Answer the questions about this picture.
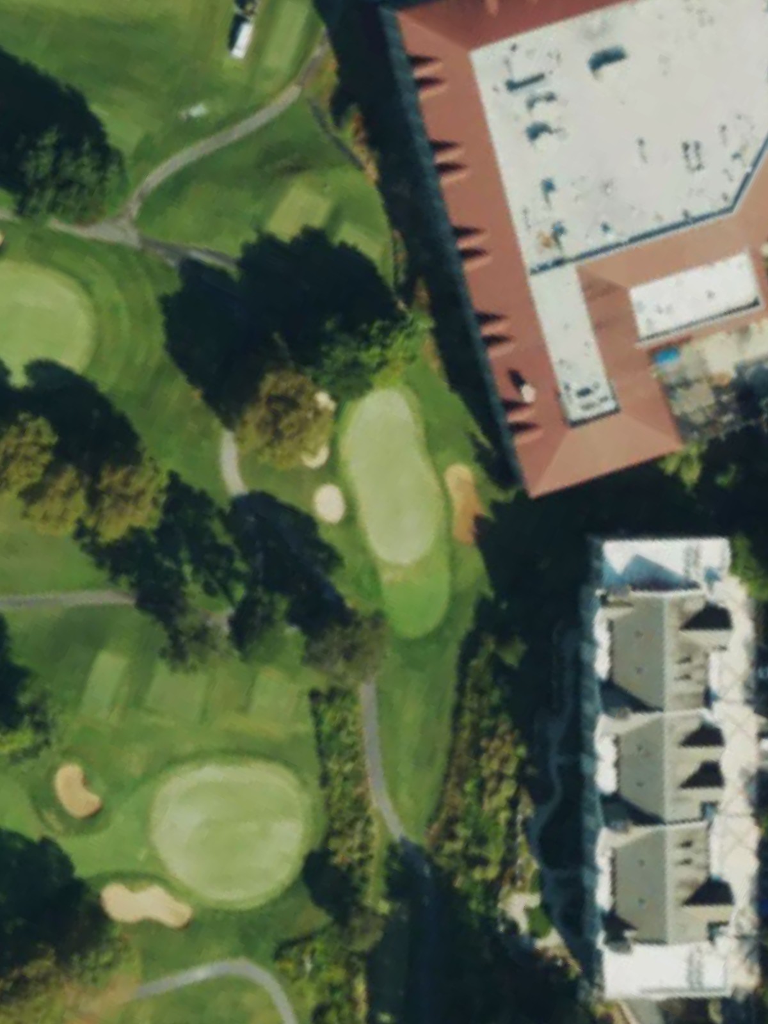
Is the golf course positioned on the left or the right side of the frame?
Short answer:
left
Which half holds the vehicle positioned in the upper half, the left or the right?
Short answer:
left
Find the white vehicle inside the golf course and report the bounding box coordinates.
[231,21,252,58]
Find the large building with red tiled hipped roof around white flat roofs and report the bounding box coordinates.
[383,0,768,497]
